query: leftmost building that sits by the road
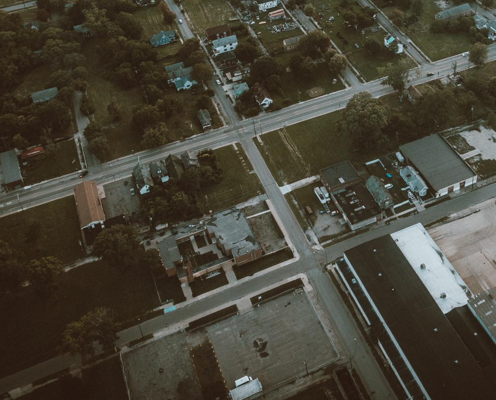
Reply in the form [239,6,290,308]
[0,149,24,191]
